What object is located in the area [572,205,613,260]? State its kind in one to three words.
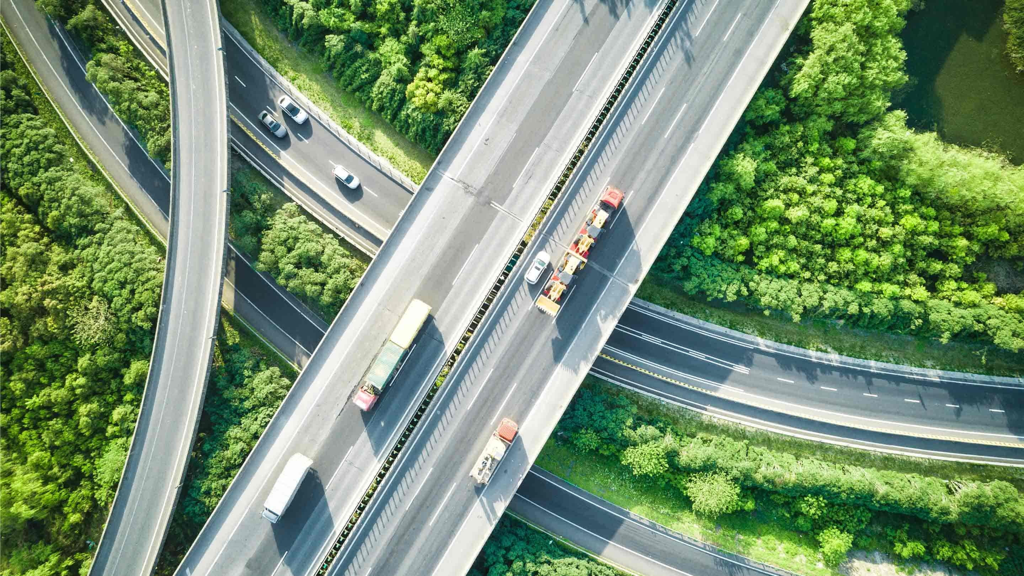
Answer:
work vehicle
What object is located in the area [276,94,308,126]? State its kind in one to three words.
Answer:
car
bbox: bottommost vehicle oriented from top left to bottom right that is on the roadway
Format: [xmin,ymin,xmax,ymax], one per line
[330,164,360,191]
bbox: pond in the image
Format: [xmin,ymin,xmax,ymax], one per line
[874,0,1024,208]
